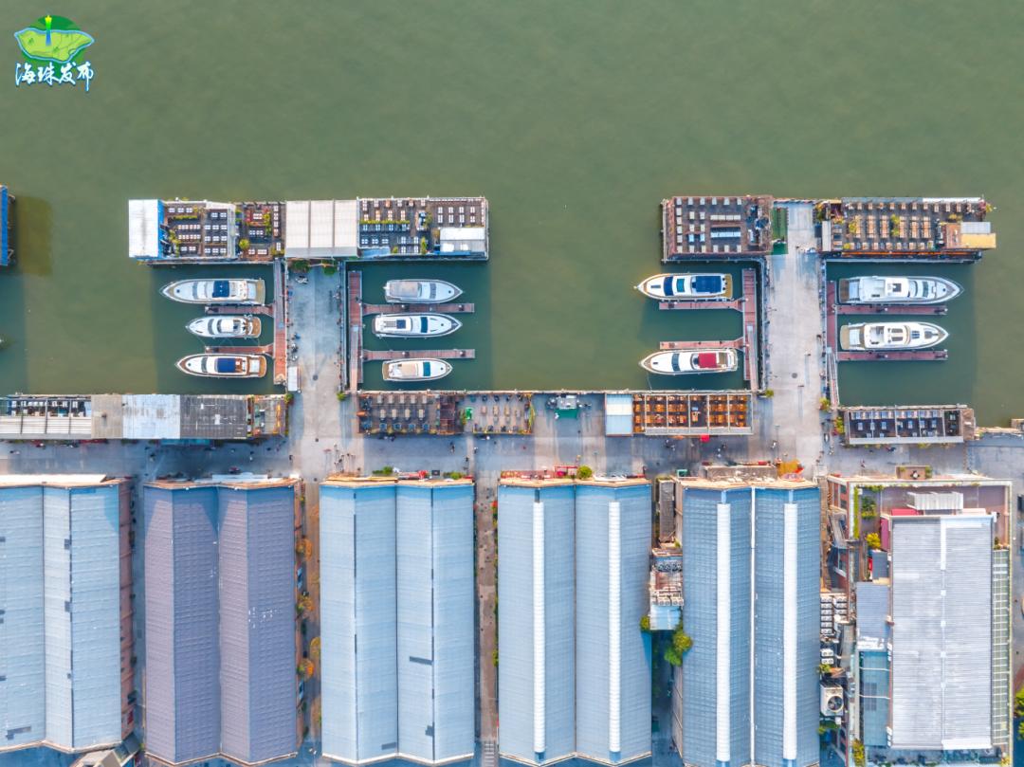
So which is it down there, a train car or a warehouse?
warehouse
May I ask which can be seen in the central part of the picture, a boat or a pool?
boat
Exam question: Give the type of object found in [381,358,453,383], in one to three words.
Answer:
boat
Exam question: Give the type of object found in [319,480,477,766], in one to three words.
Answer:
warehouse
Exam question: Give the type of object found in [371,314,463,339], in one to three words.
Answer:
boat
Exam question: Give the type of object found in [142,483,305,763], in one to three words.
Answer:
warehouse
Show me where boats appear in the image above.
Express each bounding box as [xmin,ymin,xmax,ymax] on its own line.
[186,314,265,339]
[163,278,269,305]
[834,275,962,306]
[176,352,271,378]
[381,279,463,306]
[371,314,463,339]
[640,347,739,375]
[381,358,453,383]
[836,322,950,351]
[636,273,734,302]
